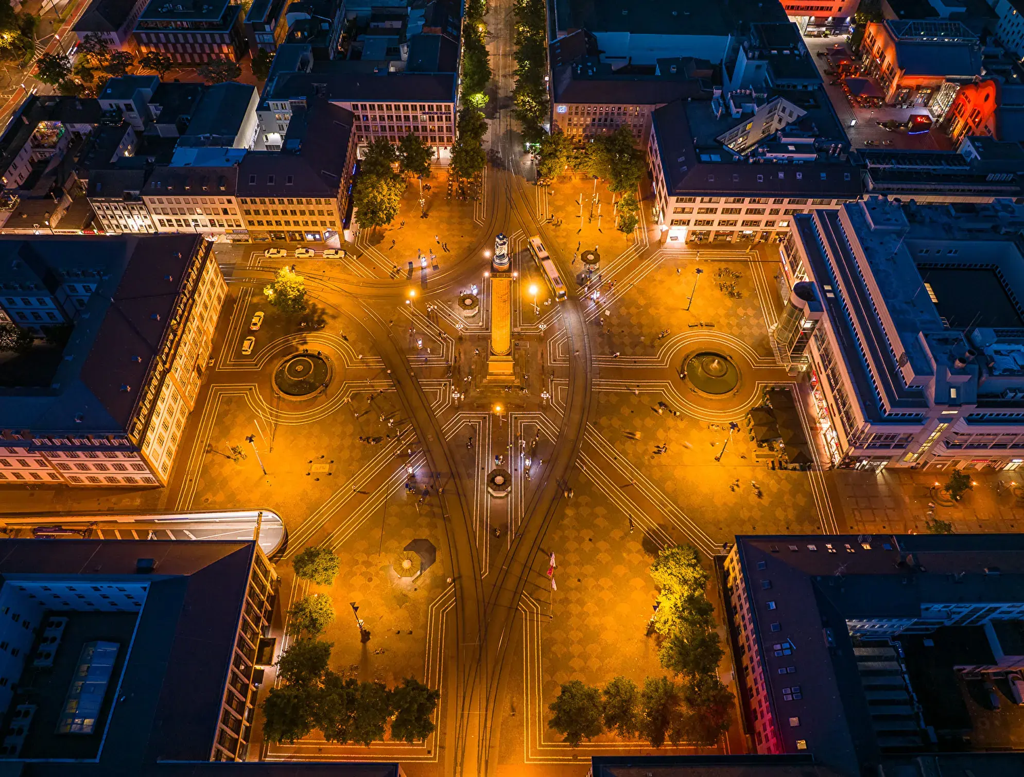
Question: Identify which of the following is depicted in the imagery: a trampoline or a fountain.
fountain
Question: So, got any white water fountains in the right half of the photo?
No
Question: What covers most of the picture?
buildings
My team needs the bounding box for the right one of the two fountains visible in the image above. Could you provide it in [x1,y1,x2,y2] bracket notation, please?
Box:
[680,346,747,401]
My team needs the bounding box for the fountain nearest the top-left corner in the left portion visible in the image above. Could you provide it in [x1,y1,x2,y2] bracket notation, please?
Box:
[269,347,336,402]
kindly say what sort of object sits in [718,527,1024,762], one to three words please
house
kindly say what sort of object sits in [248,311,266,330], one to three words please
car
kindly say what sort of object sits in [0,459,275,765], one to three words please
building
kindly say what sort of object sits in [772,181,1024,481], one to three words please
building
